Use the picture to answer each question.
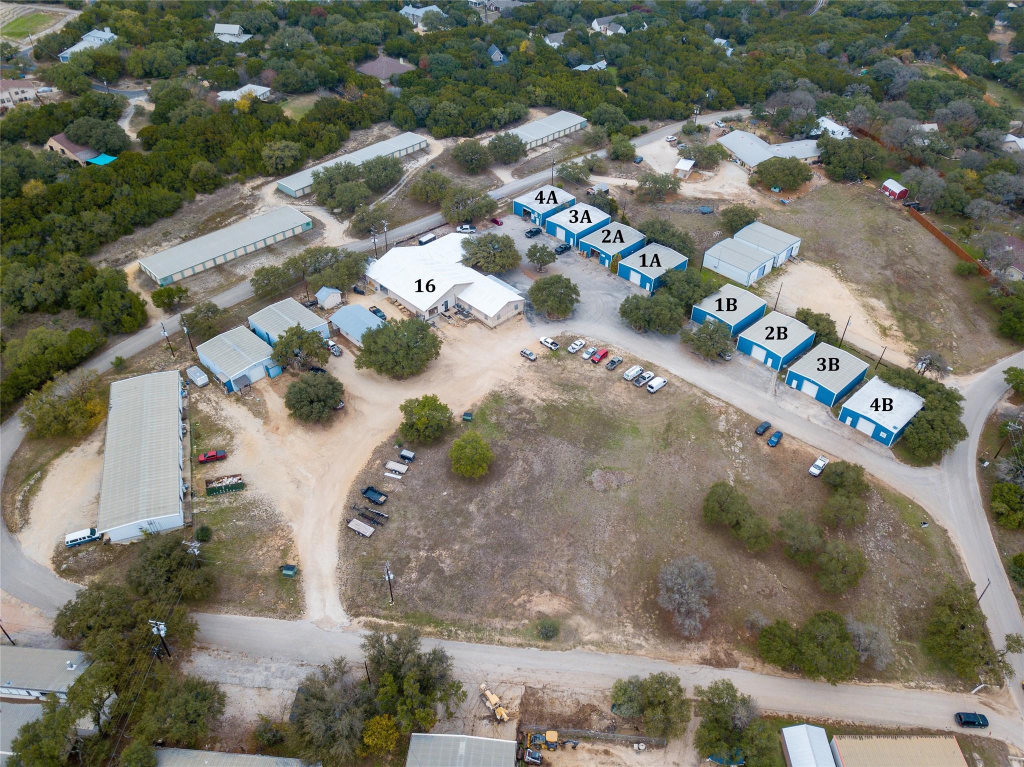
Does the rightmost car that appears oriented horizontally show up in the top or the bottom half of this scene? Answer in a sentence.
The rightmost car that appears oriented horizontally sits in the bottom half of the picture.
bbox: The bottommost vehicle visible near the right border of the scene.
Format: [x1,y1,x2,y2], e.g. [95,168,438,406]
[950,709,993,731]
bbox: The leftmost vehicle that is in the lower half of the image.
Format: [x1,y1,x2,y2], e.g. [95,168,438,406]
[66,530,96,548]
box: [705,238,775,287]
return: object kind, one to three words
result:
shed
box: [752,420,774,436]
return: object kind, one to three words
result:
car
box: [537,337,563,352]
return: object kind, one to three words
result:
vehicle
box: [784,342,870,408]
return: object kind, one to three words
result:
building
